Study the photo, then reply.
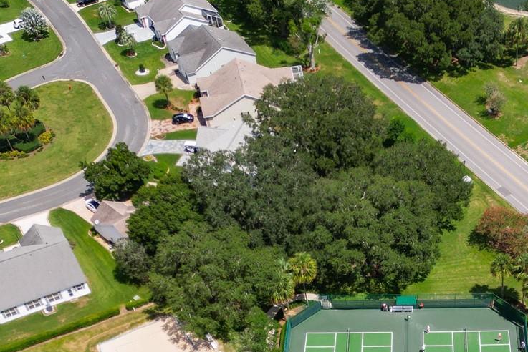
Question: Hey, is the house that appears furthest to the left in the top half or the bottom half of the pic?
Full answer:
The house that appears furthest to the left sits in the bottom half of the picture.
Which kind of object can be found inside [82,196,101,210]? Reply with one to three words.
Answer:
car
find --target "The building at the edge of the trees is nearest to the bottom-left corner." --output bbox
[0,225,92,325]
